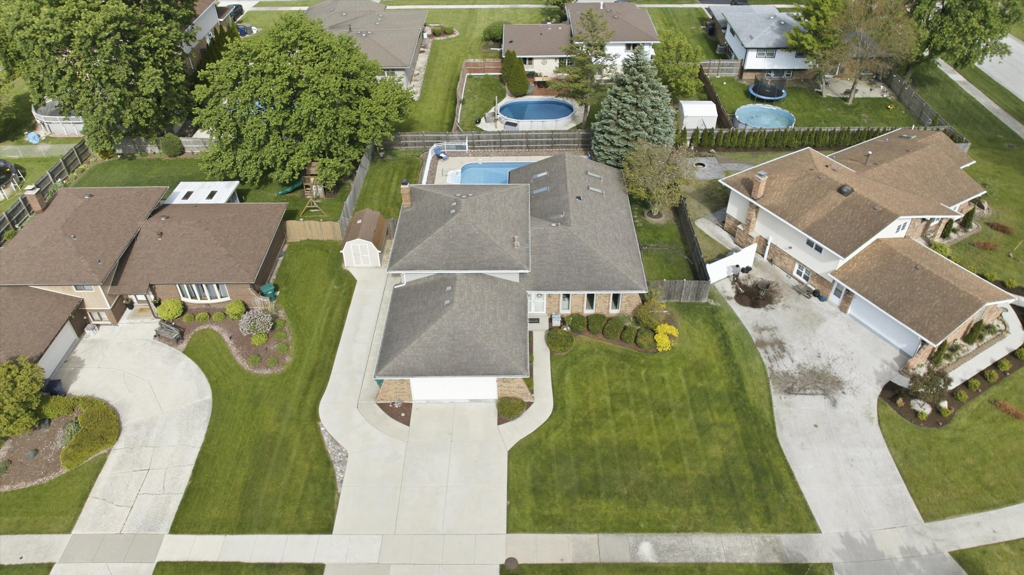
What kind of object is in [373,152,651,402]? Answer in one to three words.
house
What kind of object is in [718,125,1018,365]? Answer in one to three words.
house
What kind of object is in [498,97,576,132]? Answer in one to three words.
swimming pool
